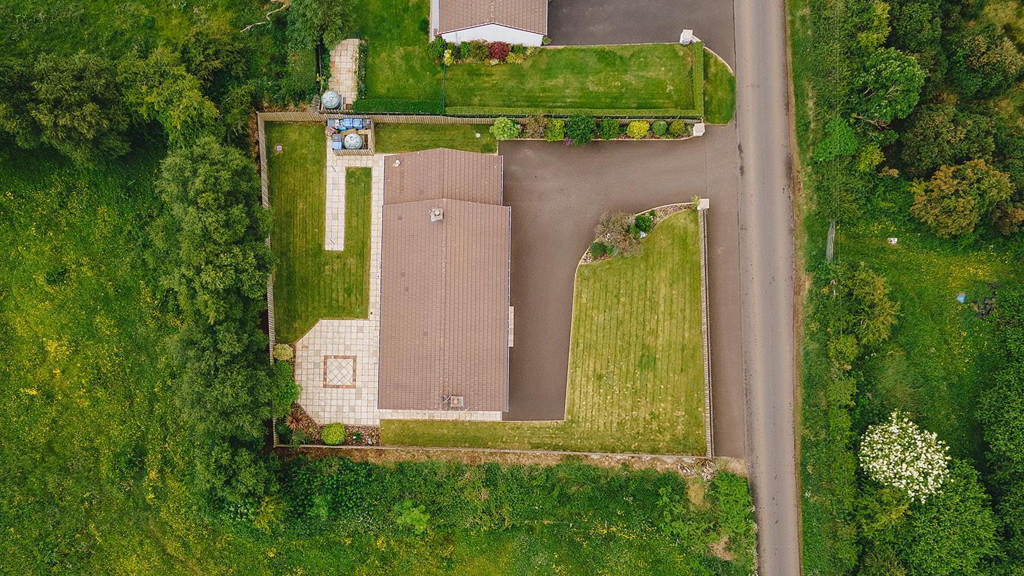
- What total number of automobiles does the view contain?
0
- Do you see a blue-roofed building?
No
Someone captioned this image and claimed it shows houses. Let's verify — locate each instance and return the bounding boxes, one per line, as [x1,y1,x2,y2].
[433,0,550,49]
[377,149,515,411]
